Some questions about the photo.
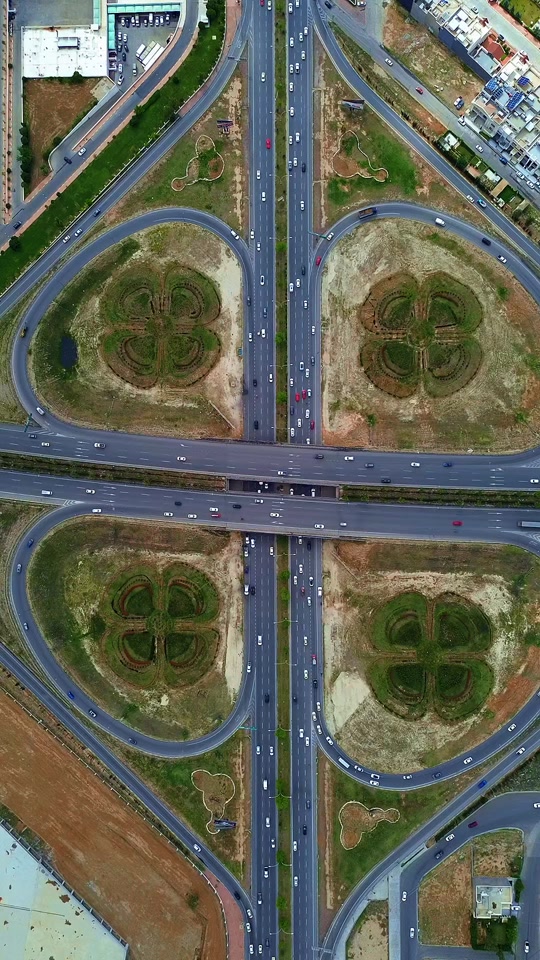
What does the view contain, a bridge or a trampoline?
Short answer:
bridge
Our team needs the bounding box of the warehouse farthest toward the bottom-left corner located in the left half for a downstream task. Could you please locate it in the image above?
[0,818,128,960]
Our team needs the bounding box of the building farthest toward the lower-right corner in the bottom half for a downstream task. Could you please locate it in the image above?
[473,881,513,920]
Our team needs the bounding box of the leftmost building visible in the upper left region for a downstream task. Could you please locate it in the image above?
[22,24,111,83]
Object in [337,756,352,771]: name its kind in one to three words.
vehicle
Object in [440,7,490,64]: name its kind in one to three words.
house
